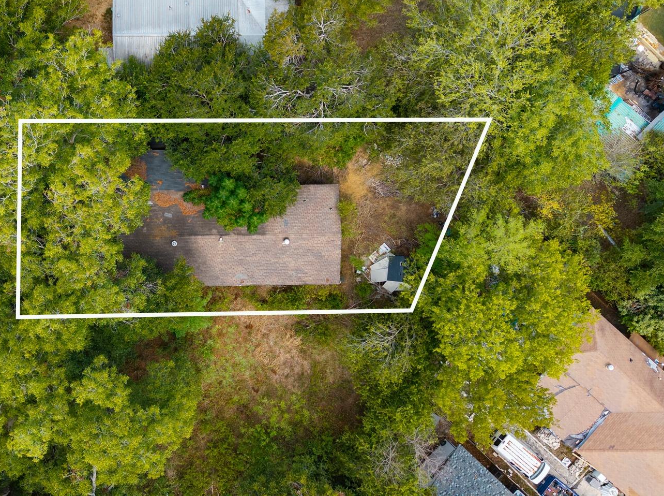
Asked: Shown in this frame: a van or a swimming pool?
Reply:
van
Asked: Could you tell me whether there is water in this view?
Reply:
No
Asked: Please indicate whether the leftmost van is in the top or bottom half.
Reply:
bottom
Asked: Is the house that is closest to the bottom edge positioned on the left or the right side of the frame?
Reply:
right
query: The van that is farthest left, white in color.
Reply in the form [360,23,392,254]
[489,429,550,487]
